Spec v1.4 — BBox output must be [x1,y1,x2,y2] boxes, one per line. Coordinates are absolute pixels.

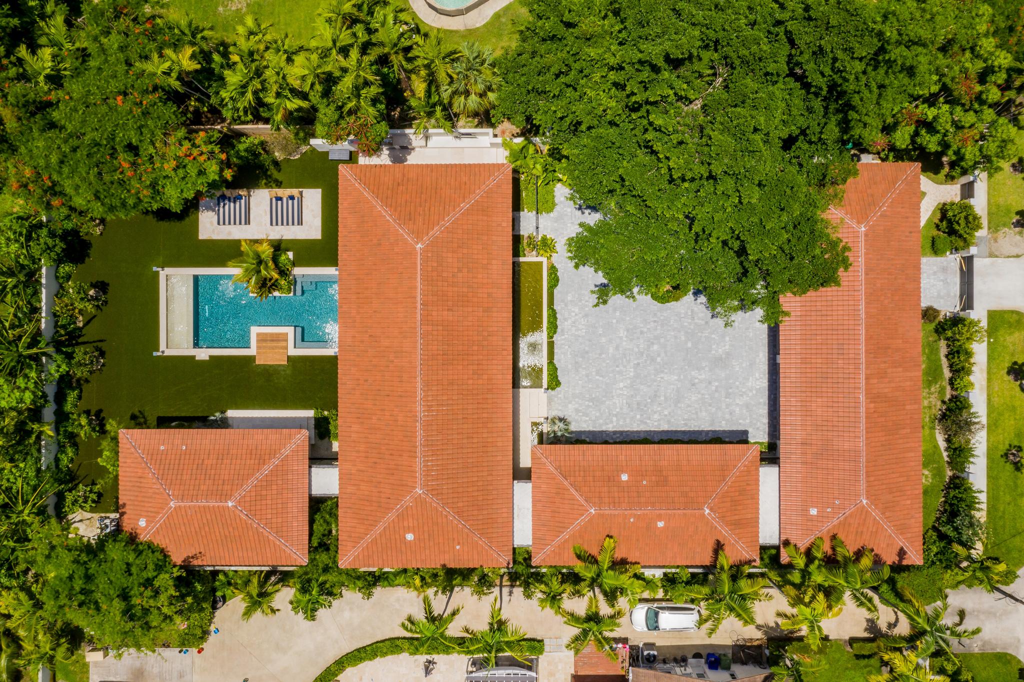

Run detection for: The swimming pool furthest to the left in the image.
[159,267,337,360]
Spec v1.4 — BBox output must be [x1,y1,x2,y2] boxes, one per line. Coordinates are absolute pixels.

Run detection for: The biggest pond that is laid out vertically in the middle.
[514,258,547,389]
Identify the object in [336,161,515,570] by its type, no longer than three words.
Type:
house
